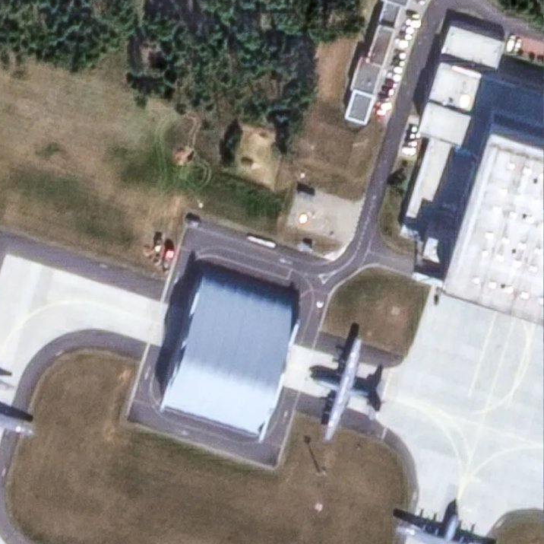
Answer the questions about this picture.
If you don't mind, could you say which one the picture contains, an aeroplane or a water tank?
aeroplane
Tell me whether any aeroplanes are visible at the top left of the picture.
No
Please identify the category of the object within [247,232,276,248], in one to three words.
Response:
vehicle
